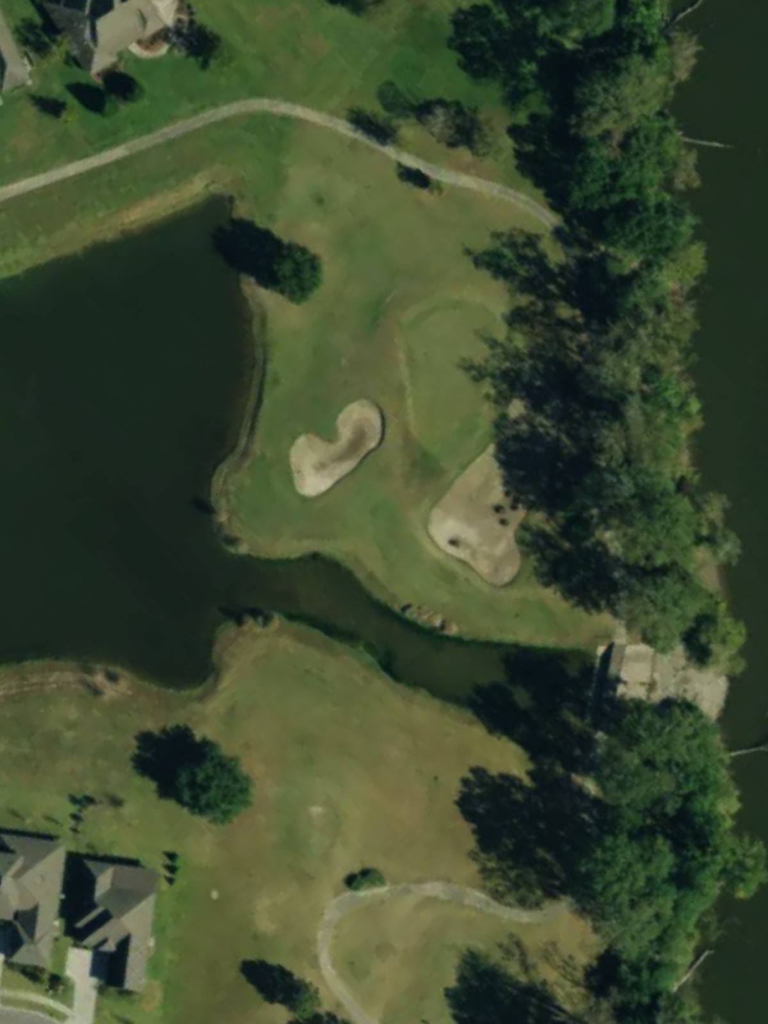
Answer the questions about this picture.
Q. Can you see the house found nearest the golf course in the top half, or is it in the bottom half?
bottom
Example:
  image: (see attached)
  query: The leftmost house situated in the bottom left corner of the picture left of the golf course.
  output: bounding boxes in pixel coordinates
[0,836,65,965]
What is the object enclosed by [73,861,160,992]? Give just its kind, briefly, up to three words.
house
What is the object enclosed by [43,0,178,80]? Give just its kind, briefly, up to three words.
house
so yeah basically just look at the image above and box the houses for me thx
[43,0,178,80]
[0,10,29,91]
[0,836,65,965]
[73,861,160,992]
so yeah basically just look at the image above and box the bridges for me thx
[602,641,626,716]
